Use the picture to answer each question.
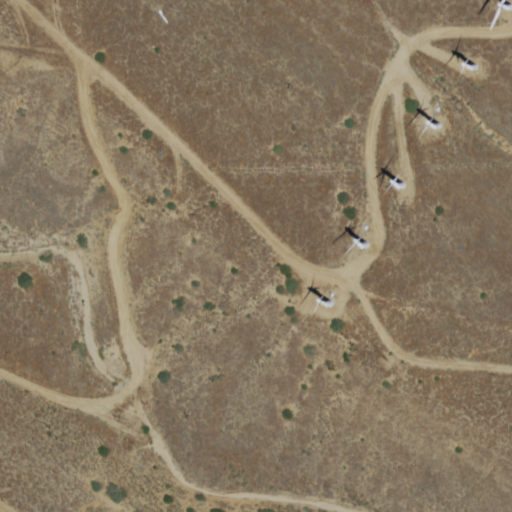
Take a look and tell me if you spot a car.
No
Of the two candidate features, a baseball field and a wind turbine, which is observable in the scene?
wind turbine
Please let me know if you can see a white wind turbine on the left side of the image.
No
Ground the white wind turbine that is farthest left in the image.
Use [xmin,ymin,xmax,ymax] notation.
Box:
[308,292,336,320]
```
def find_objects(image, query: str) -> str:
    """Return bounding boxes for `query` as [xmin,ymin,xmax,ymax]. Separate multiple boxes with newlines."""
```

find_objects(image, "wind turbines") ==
[308,292,336,320]
[417,112,445,141]
[382,164,409,191]
[342,232,372,258]
[454,55,480,83]
[491,0,512,28]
